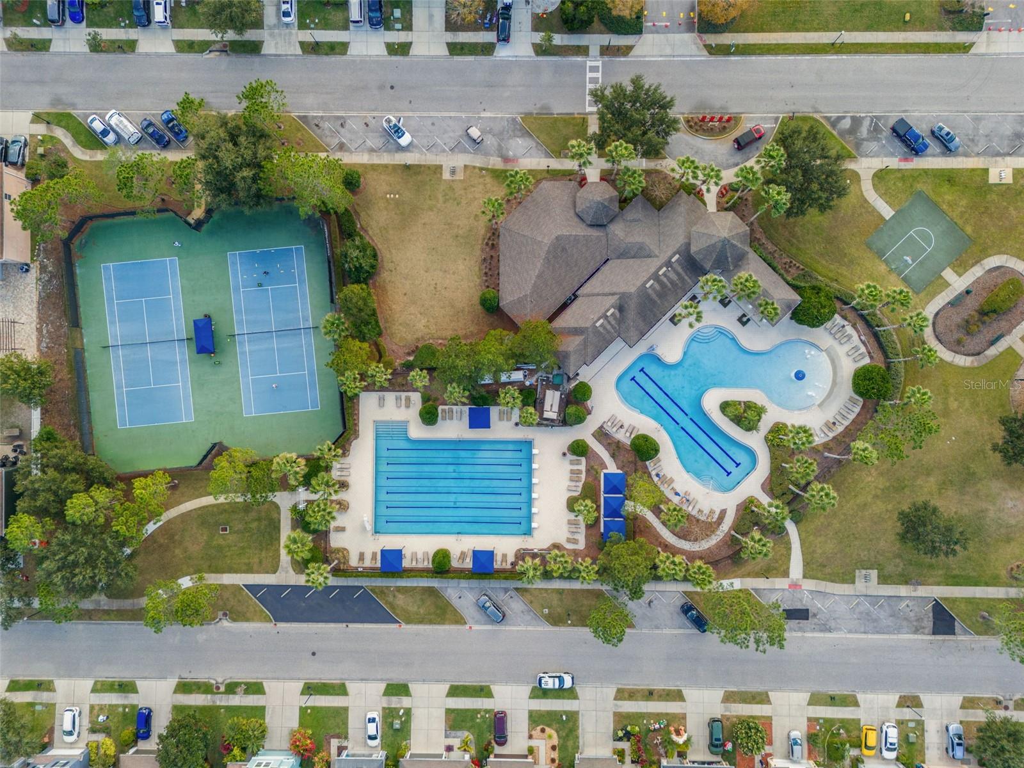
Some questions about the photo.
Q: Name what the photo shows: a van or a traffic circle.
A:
van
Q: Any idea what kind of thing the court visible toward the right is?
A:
basketball court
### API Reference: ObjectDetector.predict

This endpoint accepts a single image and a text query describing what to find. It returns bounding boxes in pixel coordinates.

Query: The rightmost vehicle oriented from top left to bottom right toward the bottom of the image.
[679,600,710,635]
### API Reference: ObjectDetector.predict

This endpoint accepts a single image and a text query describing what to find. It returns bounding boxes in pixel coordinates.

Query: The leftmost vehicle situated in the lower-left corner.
[62,706,81,742]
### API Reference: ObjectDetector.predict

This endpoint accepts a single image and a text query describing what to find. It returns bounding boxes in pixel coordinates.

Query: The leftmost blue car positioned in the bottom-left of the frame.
[135,706,153,741]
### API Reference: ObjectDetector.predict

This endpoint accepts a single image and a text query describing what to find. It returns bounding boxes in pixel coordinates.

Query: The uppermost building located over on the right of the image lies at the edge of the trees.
[499,181,802,378]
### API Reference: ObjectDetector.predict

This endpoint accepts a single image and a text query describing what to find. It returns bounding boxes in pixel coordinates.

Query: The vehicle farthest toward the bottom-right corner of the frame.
[945,721,966,760]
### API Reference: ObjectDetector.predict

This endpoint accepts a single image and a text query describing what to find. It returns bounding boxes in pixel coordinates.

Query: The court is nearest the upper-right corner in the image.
[866,190,972,293]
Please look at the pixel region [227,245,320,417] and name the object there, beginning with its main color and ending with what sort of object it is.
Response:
blue tennis court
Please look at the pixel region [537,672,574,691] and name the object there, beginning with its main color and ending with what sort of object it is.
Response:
white car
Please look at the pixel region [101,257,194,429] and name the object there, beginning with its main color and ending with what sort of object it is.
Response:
blue tennis court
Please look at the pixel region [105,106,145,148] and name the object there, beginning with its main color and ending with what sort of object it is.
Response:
white van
